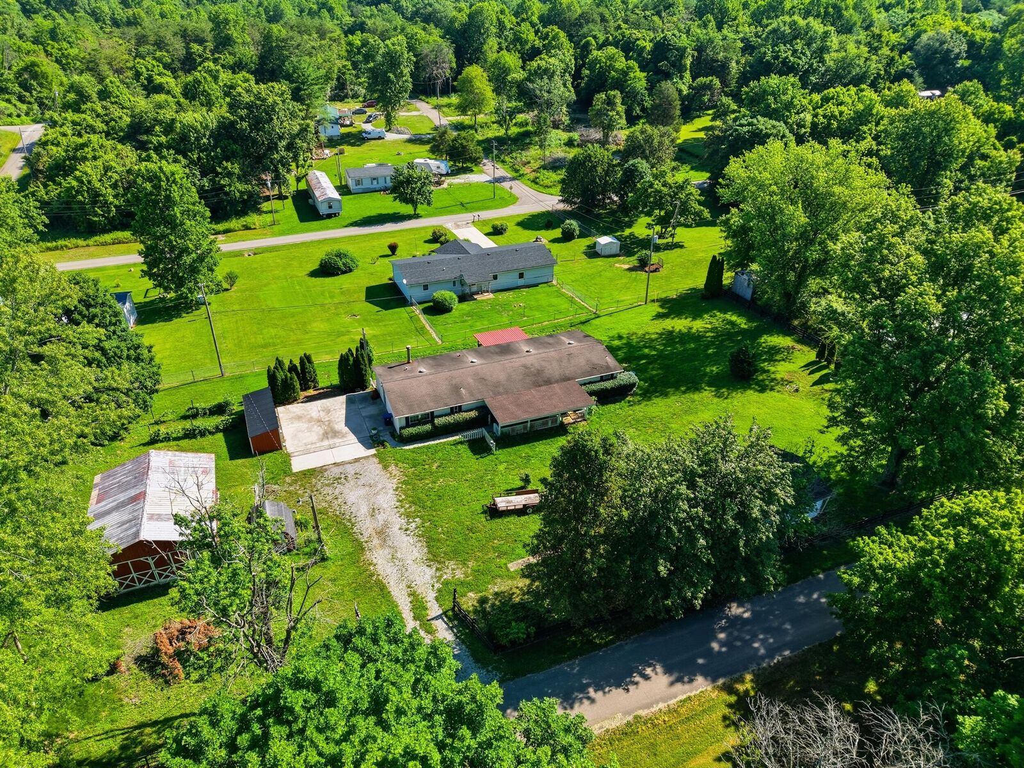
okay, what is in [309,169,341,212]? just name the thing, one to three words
house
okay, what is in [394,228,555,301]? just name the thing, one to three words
house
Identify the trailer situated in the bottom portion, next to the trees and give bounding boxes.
[481,486,540,512]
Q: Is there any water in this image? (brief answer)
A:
No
